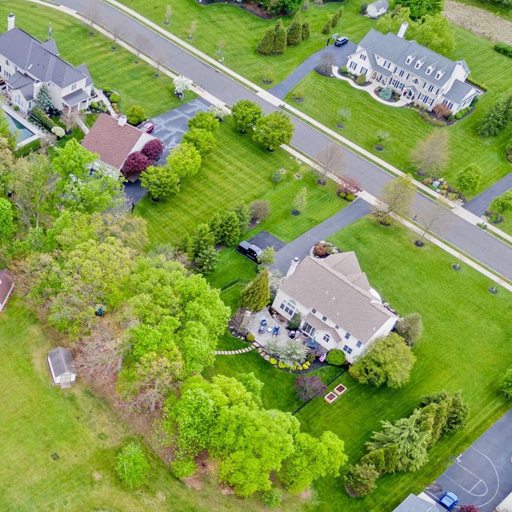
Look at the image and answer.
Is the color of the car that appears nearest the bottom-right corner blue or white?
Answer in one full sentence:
In this view, the car that appears nearest the bottom-right corner is blue.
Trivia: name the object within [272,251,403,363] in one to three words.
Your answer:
house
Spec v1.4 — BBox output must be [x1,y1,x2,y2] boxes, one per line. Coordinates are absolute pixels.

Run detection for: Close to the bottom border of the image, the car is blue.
[437,487,464,509]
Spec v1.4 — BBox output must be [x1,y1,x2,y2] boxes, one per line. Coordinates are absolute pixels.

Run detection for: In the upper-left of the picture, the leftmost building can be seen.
[0,9,103,118]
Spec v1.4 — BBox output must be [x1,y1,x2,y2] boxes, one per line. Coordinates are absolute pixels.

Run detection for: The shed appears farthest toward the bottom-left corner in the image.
[45,346,76,389]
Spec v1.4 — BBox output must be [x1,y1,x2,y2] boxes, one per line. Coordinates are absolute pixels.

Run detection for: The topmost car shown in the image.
[334,33,351,47]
